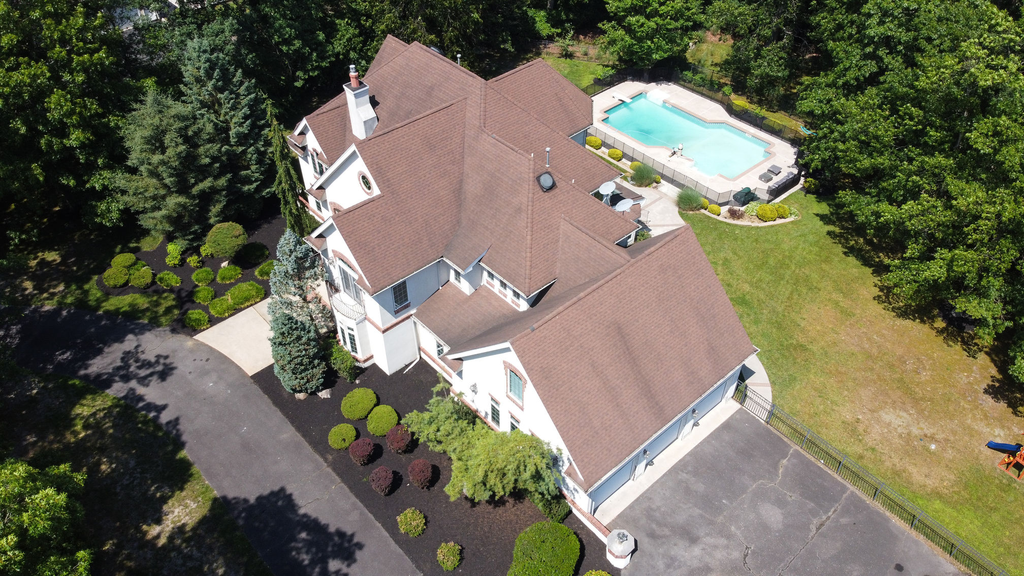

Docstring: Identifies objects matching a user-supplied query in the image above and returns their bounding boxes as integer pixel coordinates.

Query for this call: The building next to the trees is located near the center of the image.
[287,33,758,519]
